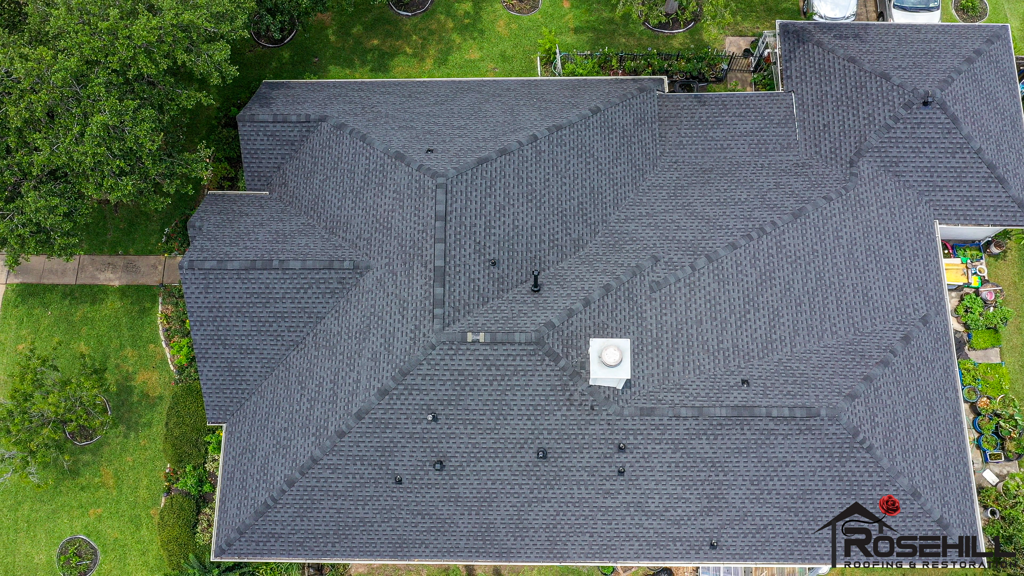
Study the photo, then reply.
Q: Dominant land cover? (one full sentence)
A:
The bulk of the photo consists of buildings.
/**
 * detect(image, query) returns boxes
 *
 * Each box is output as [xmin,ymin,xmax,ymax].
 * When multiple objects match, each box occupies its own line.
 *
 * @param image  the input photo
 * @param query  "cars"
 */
[799,0,856,21]
[881,0,943,22]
